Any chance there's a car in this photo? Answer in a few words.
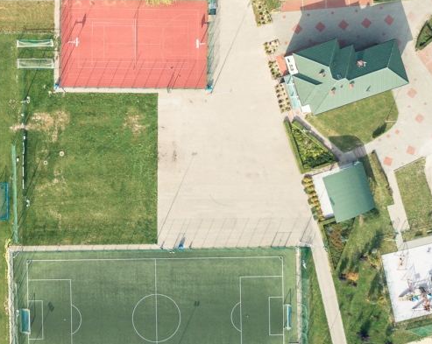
No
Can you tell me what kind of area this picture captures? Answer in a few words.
sports ground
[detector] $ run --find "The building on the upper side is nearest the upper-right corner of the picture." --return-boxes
[280,38,408,115]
